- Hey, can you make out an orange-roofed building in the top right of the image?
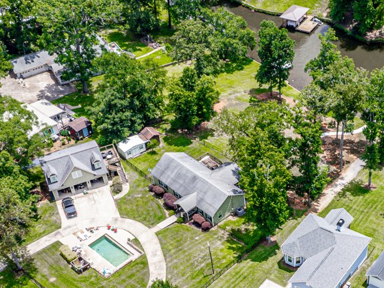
No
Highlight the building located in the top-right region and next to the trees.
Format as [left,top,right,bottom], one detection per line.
[277,3,314,37]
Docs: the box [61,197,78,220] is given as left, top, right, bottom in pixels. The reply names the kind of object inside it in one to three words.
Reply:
vehicle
